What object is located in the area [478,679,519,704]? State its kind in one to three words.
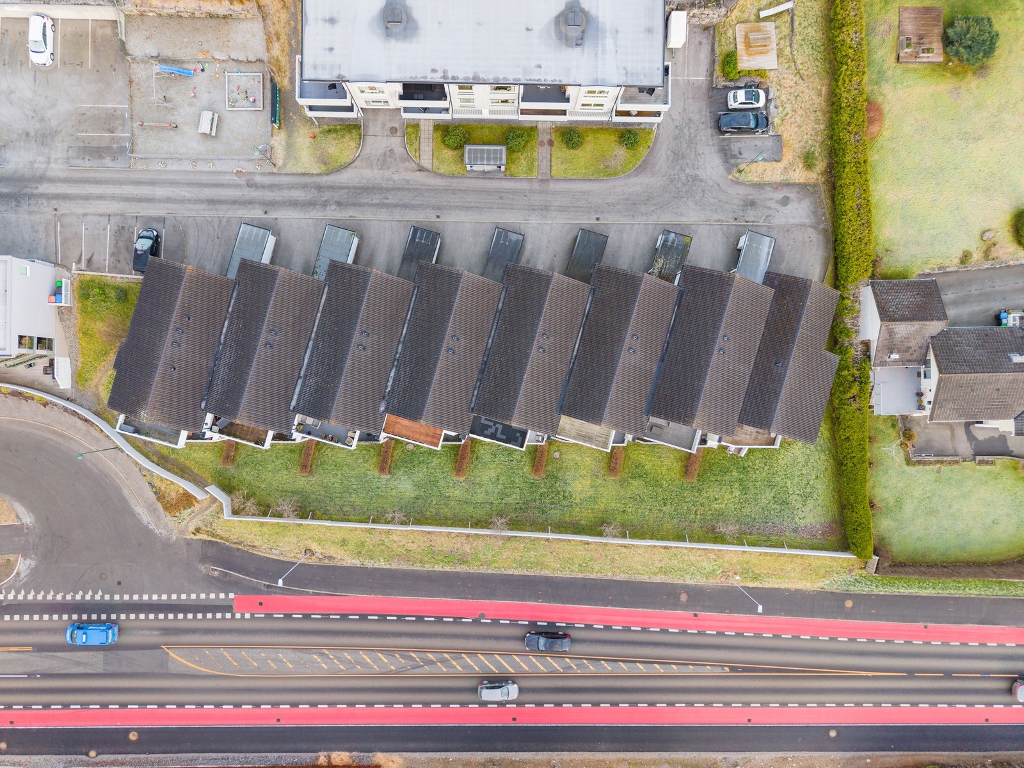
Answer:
car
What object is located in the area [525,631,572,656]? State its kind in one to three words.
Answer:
car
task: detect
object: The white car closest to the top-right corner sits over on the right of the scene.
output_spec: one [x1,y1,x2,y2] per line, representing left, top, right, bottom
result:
[724,86,765,110]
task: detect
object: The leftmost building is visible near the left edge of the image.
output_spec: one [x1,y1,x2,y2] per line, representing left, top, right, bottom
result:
[0,255,70,357]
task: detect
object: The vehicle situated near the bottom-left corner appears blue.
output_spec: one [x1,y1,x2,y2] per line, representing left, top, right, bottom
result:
[67,622,122,648]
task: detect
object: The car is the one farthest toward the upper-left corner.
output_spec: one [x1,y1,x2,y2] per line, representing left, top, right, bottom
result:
[28,16,59,68]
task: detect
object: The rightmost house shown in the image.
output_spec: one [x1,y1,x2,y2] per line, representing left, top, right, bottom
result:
[849,277,1024,435]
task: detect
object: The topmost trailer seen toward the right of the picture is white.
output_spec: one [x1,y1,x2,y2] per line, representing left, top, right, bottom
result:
[665,11,687,66]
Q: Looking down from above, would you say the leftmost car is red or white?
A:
white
